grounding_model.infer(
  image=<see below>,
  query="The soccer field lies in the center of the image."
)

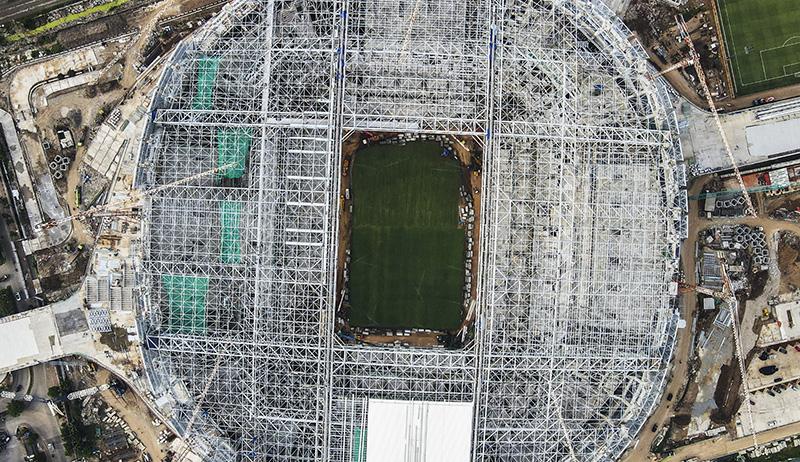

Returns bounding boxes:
[344,134,467,337]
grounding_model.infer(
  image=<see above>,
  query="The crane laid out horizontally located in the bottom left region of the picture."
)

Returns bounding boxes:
[0,378,126,403]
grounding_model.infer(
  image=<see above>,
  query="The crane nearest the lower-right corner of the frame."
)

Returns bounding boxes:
[681,252,763,451]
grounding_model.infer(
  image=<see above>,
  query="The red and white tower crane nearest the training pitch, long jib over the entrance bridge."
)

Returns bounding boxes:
[656,13,752,214]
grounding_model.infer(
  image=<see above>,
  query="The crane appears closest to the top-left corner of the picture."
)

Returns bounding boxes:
[38,163,237,224]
